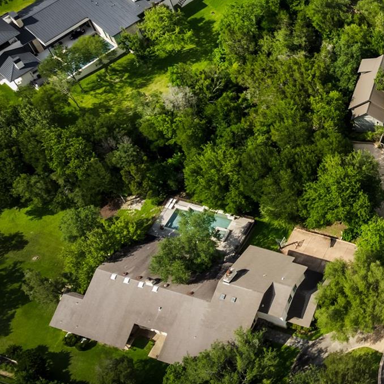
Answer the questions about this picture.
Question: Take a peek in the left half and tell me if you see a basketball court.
No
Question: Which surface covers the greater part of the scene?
trees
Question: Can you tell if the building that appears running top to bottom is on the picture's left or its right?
right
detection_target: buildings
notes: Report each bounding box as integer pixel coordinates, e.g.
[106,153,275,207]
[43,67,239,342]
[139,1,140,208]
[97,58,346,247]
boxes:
[349,54,384,130]
[0,0,181,92]
[50,238,330,369]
